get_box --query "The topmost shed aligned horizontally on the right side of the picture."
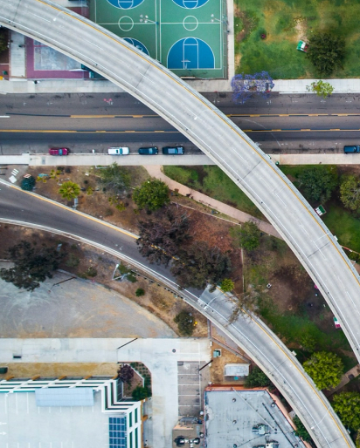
[224,363,253,376]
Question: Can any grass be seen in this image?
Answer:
Yes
